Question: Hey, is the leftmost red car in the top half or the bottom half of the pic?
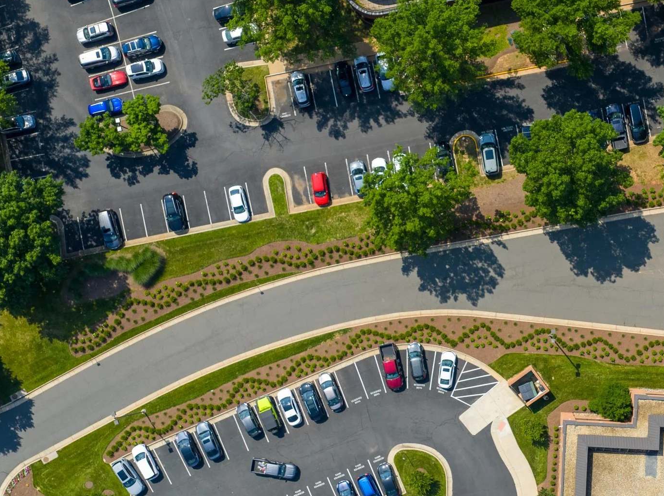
top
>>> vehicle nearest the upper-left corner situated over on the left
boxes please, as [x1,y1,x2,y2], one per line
[0,46,25,68]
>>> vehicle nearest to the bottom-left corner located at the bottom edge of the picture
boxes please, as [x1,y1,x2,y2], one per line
[111,457,145,496]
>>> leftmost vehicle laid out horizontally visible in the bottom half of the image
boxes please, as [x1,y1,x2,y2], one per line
[249,457,298,482]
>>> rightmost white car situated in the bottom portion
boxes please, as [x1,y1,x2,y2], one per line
[439,351,456,389]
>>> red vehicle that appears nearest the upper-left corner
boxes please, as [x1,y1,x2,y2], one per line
[88,71,129,92]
